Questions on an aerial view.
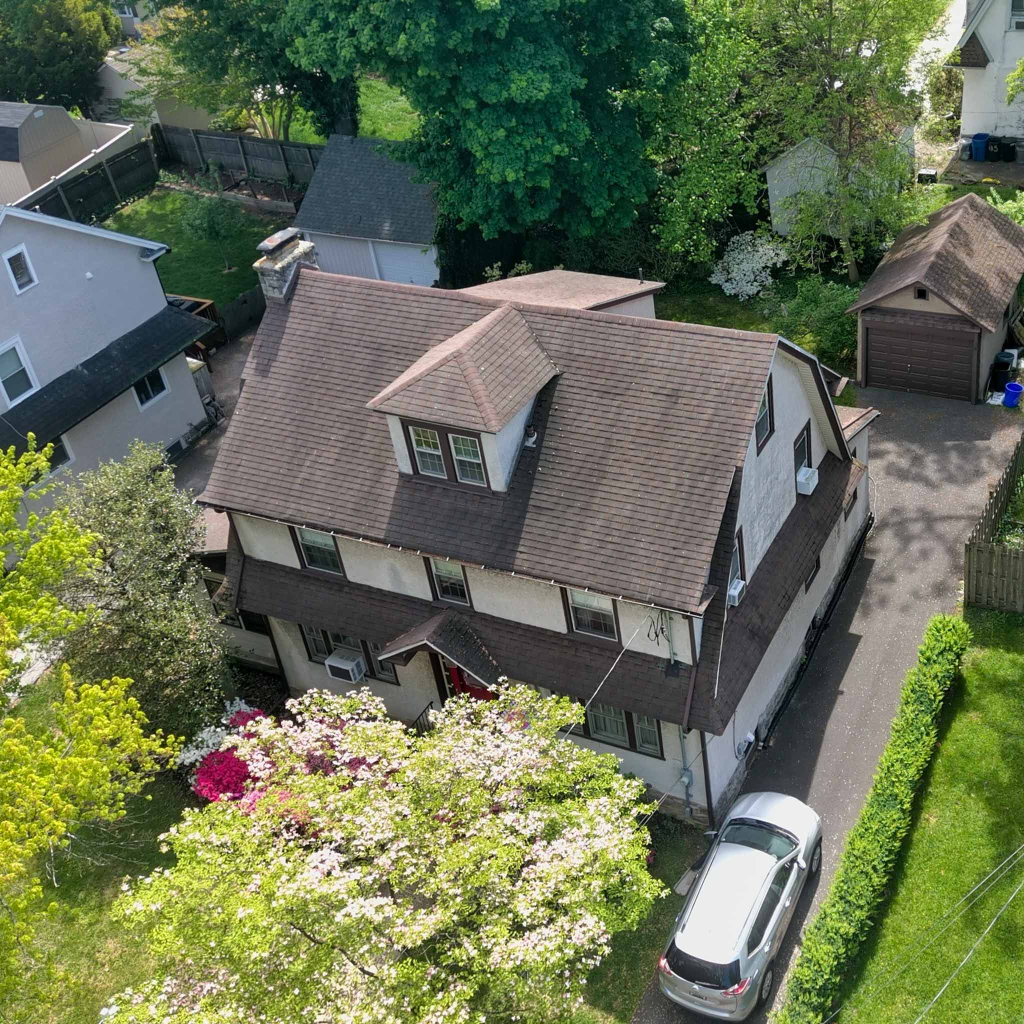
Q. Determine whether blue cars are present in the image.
No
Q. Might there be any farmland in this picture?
No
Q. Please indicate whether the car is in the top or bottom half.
bottom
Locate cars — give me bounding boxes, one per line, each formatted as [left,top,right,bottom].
[651,786,820,1021]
